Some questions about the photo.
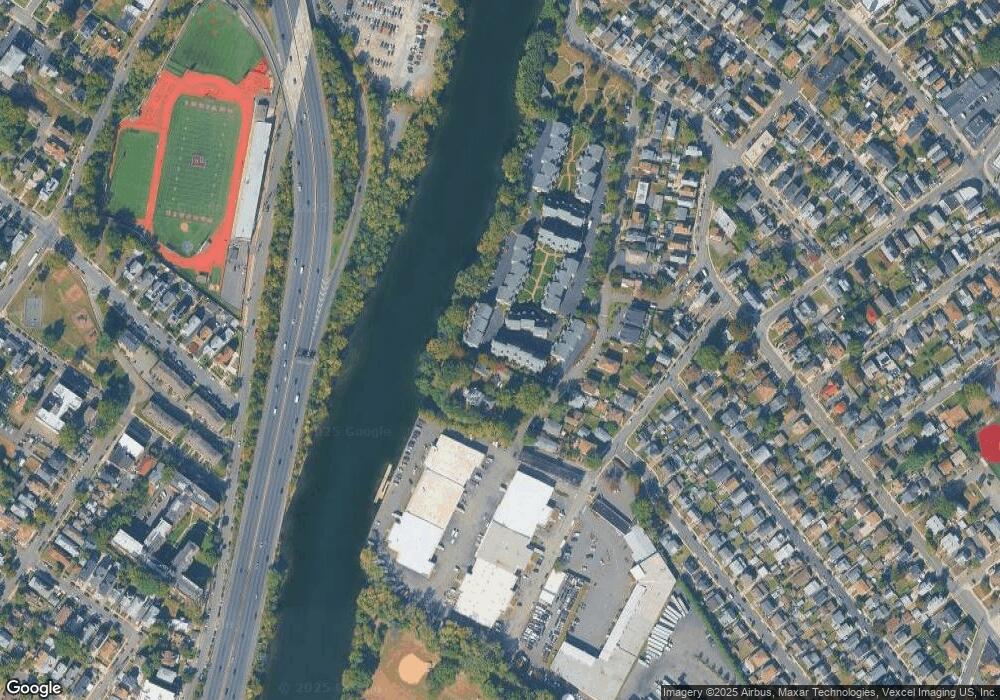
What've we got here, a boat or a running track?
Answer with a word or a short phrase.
running track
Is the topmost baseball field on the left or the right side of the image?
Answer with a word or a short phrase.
left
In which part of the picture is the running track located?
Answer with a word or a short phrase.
top left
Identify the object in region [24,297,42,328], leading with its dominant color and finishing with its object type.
gray sports court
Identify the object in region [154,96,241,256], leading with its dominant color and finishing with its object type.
green sports field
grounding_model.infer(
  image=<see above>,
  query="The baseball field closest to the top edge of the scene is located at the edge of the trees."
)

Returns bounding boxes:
[166,0,261,84]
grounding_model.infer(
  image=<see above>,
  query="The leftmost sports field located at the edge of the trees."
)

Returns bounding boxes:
[108,129,157,219]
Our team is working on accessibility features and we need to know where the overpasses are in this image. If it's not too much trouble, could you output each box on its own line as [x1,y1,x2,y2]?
[282,0,312,127]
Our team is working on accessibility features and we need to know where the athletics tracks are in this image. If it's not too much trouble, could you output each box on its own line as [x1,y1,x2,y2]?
[119,62,271,272]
